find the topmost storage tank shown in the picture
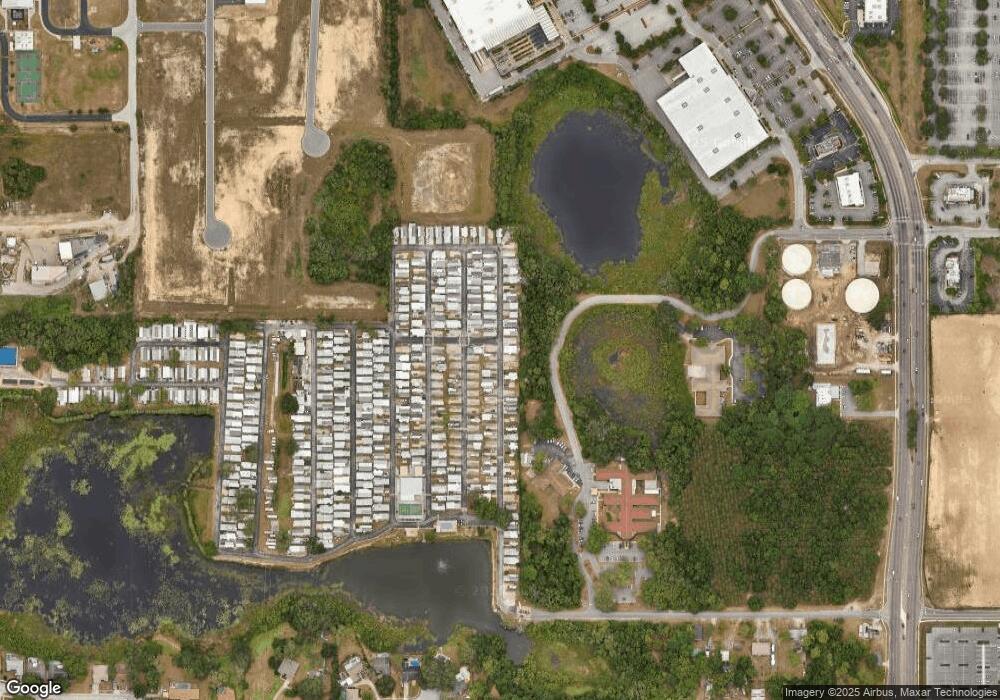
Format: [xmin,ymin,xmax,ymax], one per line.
[781,244,812,275]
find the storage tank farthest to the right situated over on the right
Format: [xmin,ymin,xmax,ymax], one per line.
[845,277,880,312]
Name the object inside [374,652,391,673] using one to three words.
house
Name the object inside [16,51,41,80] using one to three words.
sports court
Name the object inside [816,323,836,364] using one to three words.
building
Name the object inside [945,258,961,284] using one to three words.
building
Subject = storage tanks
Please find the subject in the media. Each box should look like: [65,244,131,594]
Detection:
[845,277,880,312]
[782,278,812,309]
[781,244,812,275]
